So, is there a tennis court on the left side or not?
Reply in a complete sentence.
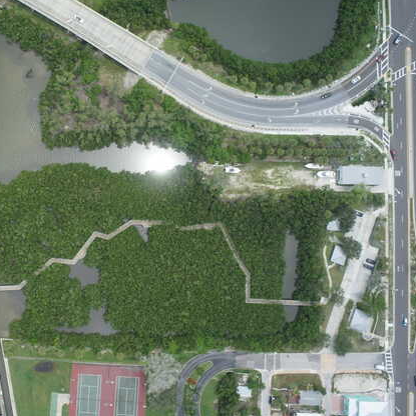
Yes, there is a tennis court on the left side.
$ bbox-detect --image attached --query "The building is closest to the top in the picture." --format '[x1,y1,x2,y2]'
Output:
[332,165,384,186]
